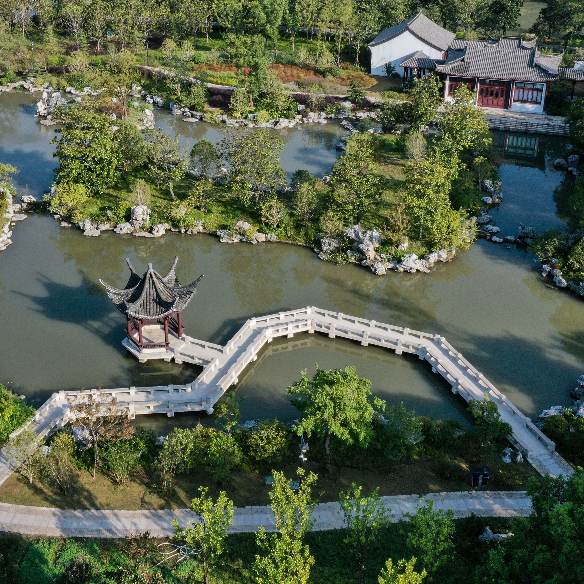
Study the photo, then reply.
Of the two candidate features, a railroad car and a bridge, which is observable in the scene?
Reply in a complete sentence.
Looking from above, you can make out a bridge.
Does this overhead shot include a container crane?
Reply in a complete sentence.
No, there's no container crane here.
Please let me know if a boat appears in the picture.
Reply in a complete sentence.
No, the scene contains no boat.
